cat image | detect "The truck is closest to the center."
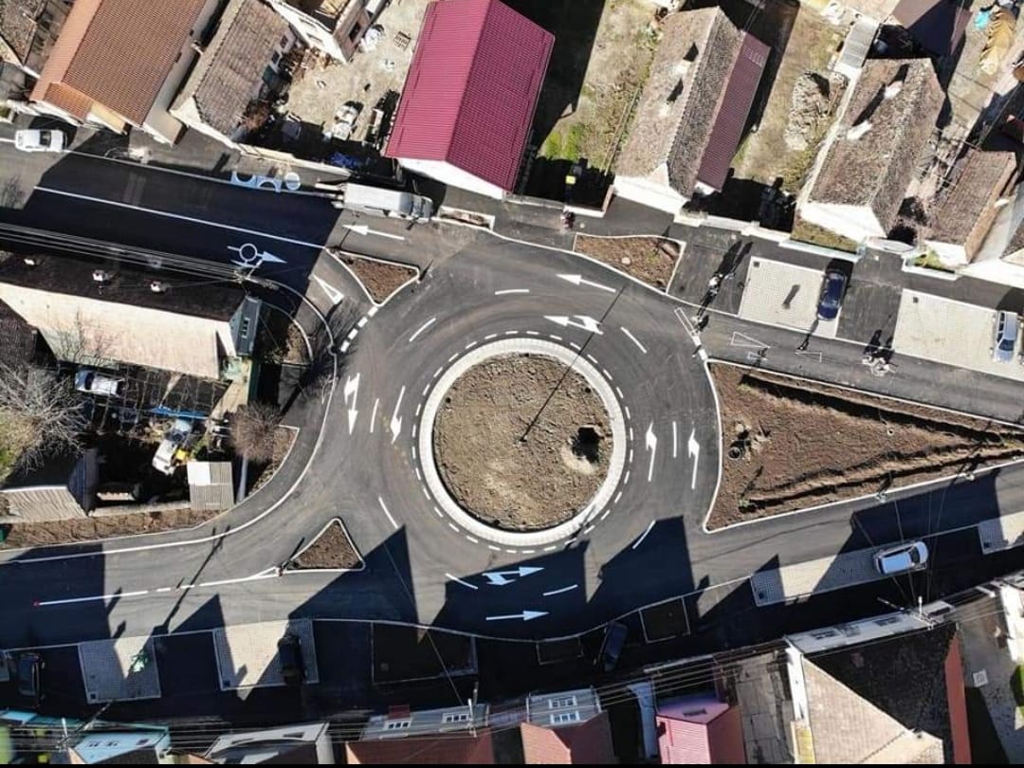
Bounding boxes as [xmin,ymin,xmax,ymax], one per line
[328,176,433,227]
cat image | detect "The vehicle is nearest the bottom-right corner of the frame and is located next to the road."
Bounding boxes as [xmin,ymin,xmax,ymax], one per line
[867,538,929,576]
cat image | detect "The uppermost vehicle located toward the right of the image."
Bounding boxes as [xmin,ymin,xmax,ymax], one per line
[812,265,849,321]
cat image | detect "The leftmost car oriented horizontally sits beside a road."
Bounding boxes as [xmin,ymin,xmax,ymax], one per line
[12,127,69,156]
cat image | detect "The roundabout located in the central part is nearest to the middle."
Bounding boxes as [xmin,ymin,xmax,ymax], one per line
[343,275,700,621]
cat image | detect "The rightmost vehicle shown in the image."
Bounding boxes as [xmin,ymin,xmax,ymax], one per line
[986,308,1023,365]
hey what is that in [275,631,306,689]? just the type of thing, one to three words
car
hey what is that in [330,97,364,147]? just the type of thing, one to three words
car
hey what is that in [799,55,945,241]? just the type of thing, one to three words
house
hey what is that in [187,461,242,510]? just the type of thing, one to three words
shed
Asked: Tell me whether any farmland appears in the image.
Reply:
No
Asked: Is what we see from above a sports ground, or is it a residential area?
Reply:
residential area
